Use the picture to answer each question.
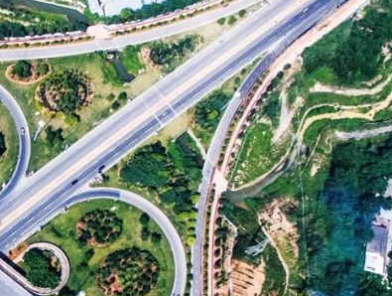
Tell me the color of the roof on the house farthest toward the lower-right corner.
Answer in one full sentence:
From above, the roof of the house farthest toward the lower-right corner looks white.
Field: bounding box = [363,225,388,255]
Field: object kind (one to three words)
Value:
house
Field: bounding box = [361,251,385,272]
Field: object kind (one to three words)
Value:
house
